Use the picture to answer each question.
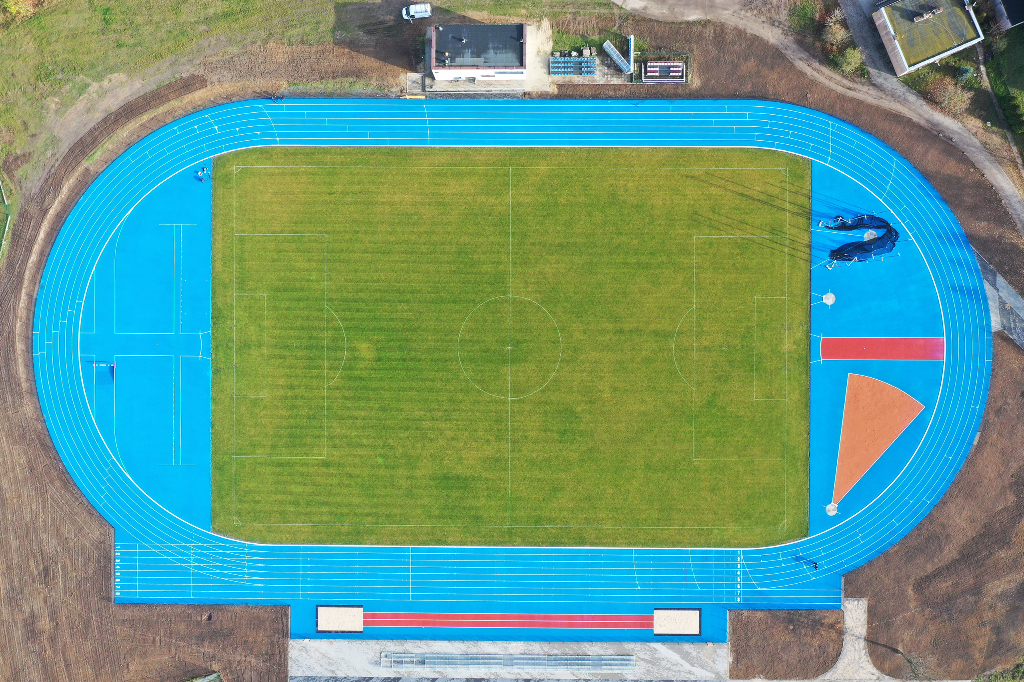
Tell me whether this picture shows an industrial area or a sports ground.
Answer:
sports ground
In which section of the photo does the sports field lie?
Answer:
center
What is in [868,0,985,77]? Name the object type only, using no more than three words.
house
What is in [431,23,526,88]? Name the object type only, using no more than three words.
building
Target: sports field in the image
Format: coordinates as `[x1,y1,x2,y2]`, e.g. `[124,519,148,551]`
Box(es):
[211,147,811,547]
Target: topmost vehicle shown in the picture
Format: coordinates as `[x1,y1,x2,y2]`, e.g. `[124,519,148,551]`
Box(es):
[402,3,433,23]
